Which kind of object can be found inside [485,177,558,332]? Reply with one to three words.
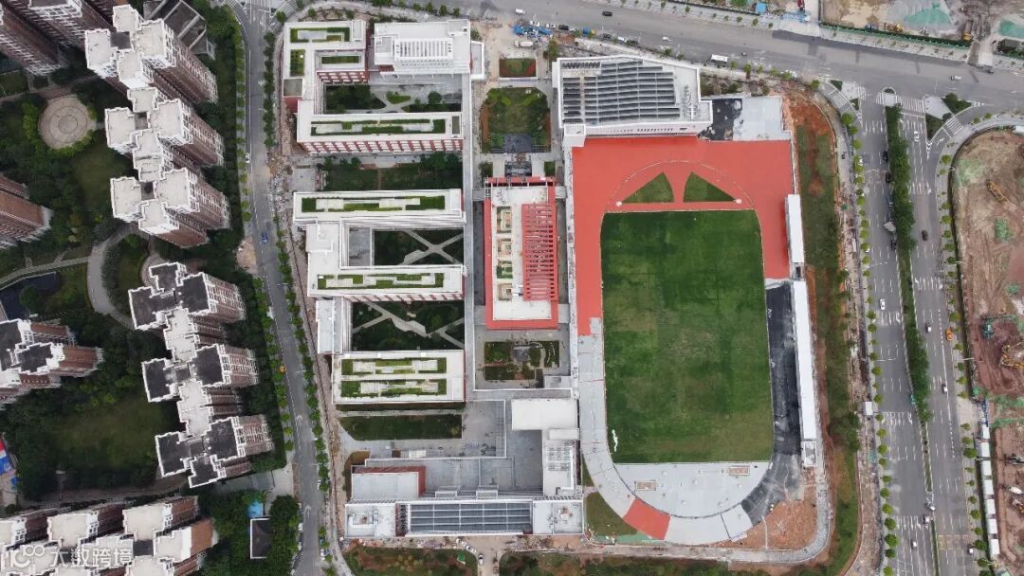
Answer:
building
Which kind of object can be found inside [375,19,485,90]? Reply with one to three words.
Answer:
building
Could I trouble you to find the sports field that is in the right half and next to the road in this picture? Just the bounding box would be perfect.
[573,138,804,544]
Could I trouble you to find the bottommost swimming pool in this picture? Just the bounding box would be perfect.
[246,499,265,518]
